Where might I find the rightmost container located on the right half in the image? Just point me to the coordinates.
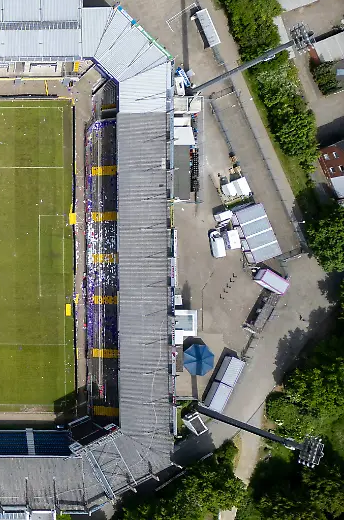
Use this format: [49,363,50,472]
[247,269,289,294]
